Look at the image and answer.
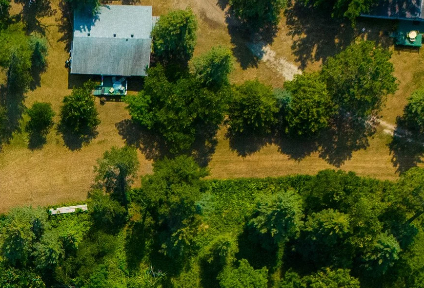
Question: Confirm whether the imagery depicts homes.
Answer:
Yes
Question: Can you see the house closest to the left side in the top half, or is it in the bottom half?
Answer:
top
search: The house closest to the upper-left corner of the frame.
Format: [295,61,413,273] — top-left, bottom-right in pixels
[69,5,161,95]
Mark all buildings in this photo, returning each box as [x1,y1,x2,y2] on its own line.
[351,0,424,48]
[69,5,161,95]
